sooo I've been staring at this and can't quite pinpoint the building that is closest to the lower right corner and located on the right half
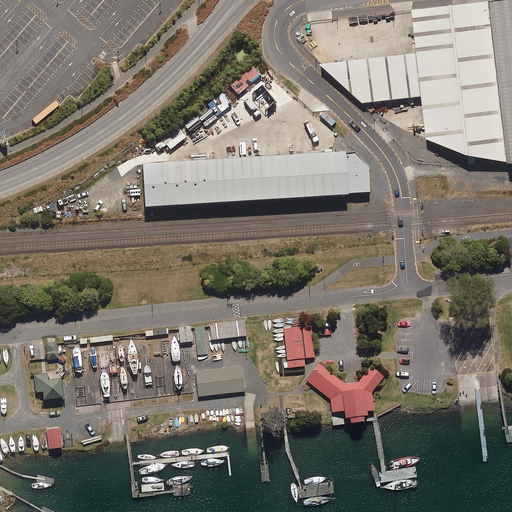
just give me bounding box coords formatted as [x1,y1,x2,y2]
[307,364,384,426]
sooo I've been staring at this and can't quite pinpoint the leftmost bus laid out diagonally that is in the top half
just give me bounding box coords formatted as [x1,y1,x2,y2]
[30,101,60,125]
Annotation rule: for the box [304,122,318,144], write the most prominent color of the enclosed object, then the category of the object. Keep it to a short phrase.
white vehicle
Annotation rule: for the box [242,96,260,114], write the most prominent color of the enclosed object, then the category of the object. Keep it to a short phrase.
white vehicle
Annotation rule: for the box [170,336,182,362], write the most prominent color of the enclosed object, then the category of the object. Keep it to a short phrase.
white boat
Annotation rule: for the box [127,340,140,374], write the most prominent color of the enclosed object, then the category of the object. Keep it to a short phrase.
white boat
